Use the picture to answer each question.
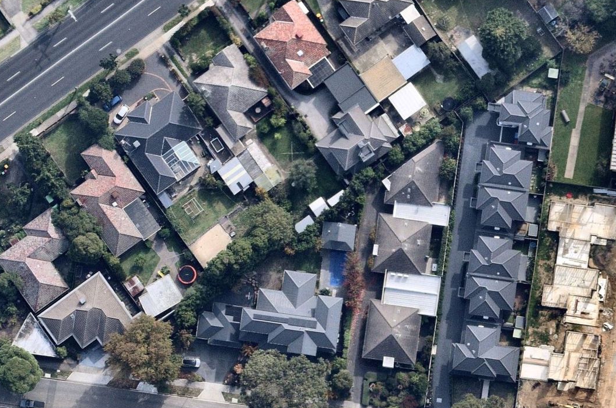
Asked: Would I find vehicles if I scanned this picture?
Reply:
Yes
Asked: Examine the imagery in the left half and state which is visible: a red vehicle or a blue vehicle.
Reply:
blue vehicle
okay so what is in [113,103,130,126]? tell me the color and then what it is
white car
